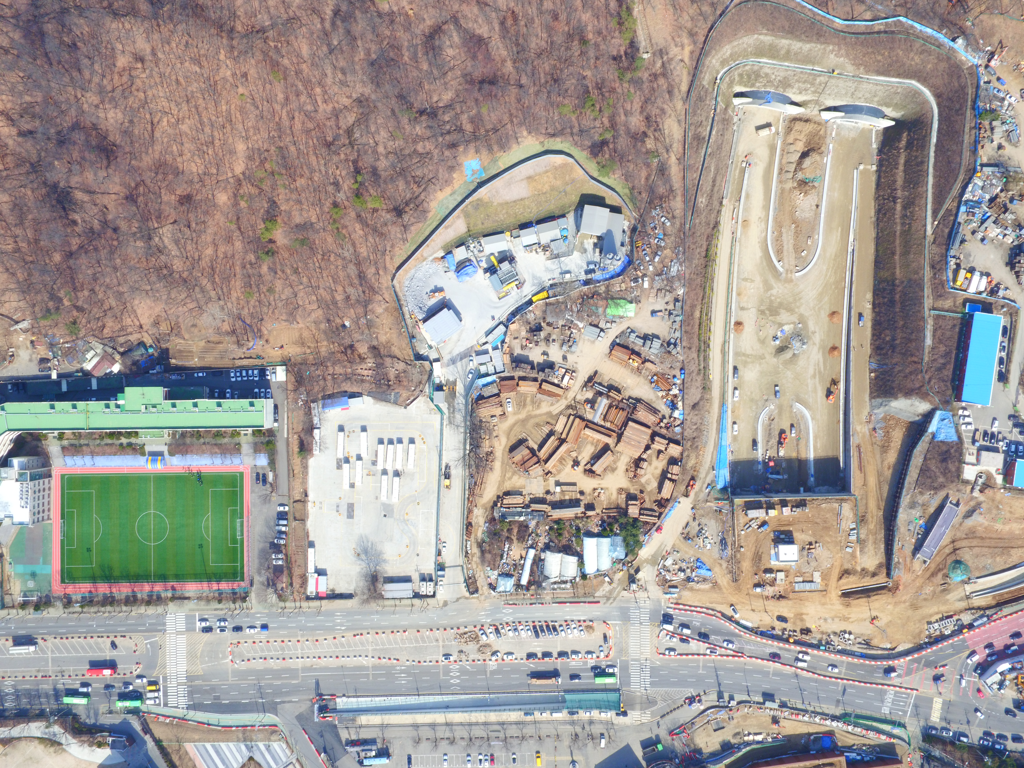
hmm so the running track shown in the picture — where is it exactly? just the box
[52,465,250,594]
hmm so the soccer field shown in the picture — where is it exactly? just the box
[60,472,244,584]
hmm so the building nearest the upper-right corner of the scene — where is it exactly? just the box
[953,302,1003,406]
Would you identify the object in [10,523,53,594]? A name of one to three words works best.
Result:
sports court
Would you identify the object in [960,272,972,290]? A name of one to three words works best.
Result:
vehicle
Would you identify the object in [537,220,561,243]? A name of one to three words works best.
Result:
shed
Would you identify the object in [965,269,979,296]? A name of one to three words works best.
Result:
vehicle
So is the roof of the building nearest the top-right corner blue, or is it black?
blue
